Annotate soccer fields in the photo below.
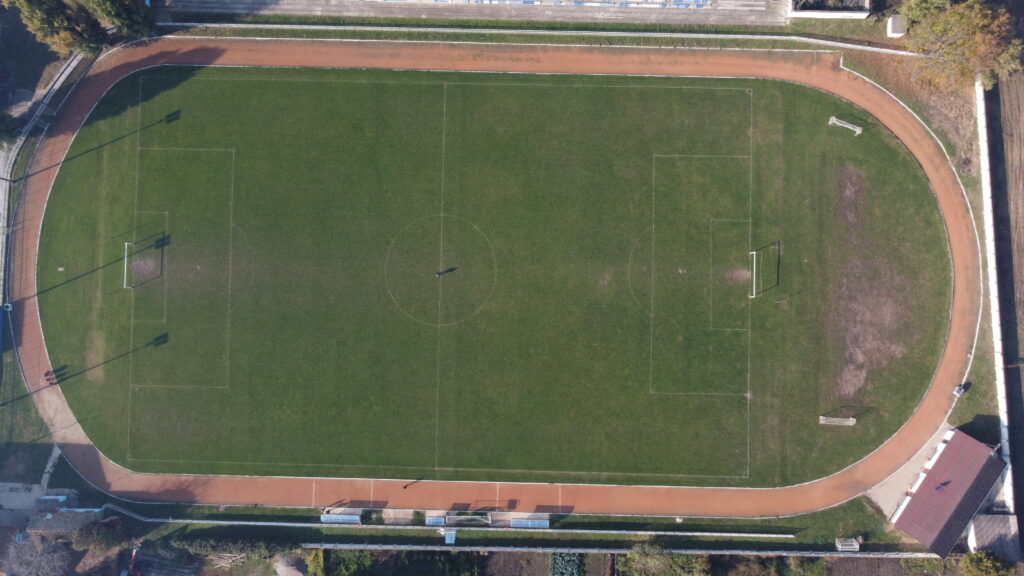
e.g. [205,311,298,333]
[36,65,953,488]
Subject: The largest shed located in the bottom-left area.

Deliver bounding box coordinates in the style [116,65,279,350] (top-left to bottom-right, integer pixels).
[23,508,108,534]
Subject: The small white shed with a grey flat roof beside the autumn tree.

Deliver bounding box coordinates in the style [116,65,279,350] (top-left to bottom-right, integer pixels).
[886,15,906,38]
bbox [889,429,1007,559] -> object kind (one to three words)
house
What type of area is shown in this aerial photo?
sports ground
